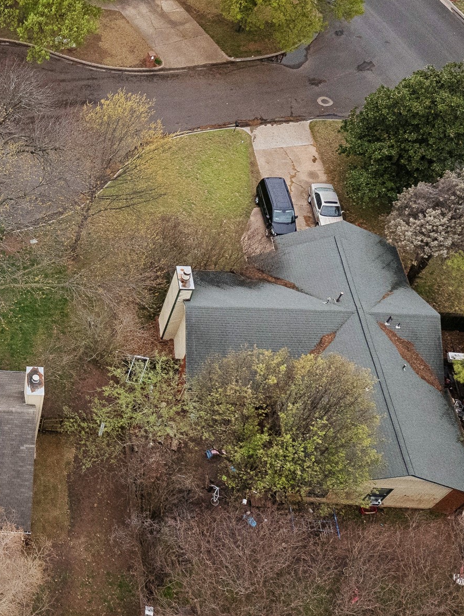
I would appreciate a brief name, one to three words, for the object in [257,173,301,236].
car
